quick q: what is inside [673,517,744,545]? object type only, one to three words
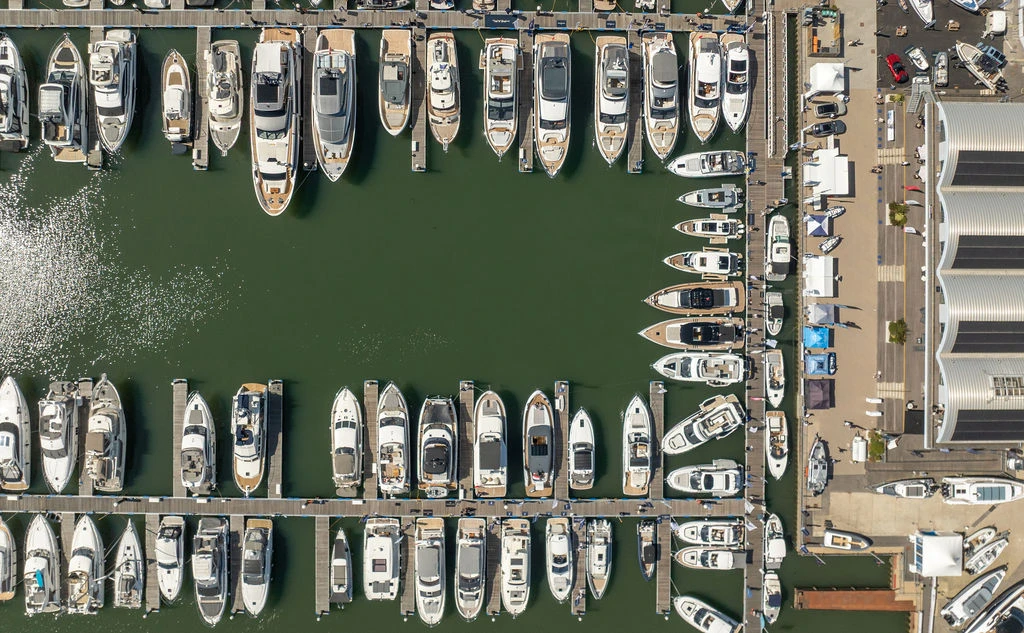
boat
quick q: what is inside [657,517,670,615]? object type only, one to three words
pier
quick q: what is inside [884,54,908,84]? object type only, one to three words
car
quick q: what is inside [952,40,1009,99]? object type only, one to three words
boat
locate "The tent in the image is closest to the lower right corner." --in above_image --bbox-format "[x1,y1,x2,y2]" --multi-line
[904,527,964,576]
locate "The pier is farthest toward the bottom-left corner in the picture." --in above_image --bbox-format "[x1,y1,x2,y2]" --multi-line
[61,515,75,601]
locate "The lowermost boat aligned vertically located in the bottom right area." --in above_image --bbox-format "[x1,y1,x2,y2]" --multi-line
[763,571,781,623]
